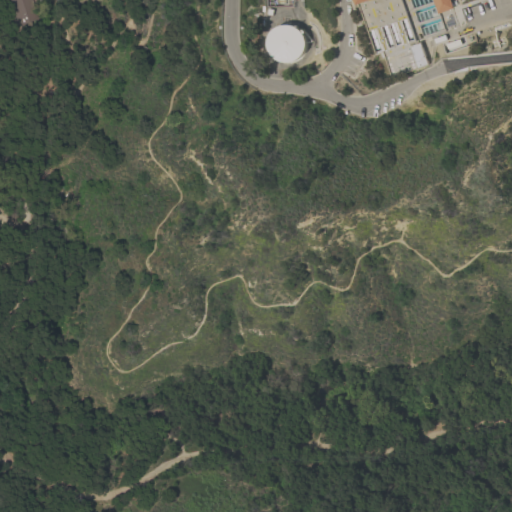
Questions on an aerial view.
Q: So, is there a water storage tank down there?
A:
Yes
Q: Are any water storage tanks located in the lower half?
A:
No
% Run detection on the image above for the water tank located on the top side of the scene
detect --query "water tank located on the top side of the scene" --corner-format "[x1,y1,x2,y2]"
[264,24,314,65]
